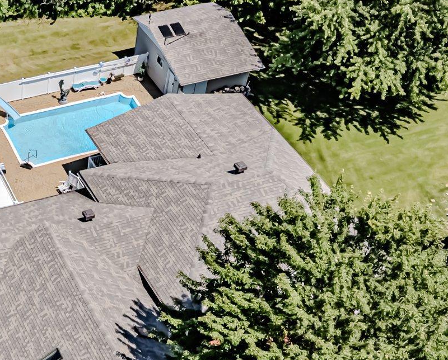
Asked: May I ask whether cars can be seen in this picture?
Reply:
No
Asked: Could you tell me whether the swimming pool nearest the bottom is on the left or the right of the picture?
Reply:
left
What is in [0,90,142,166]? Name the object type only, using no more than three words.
swimming pool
